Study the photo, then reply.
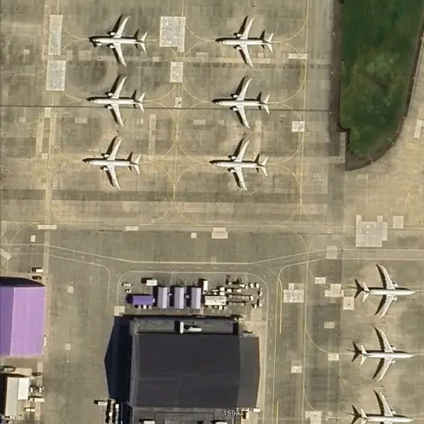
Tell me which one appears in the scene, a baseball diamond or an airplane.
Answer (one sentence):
The one in the frame is an airplane.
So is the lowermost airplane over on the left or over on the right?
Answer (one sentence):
The lowermost airplane is on the right side of the image.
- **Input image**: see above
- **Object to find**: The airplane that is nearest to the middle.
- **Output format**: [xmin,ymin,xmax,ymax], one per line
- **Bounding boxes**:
[212,139,267,190]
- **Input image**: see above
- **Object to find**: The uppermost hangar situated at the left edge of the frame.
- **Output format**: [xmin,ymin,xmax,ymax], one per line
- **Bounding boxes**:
[0,285,44,357]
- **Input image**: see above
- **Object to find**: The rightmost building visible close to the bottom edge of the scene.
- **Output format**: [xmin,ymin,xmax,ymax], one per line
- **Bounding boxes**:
[127,319,258,424]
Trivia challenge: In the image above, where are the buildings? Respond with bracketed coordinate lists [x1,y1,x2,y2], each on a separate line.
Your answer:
[157,287,171,309]
[190,287,204,309]
[173,287,187,309]
[132,296,154,306]
[0,285,44,357]
[0,374,39,416]
[127,319,258,424]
